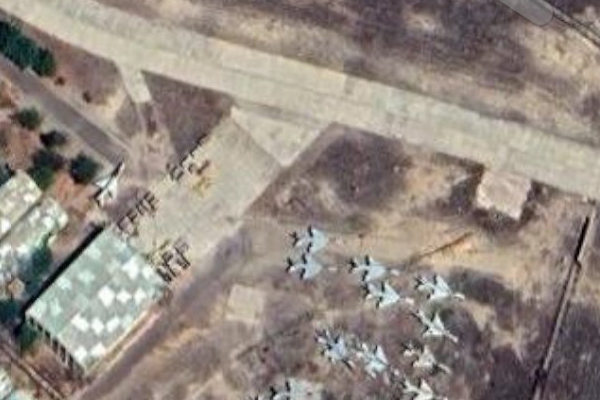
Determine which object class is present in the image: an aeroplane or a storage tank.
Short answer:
aeroplane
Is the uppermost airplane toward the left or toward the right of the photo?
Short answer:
left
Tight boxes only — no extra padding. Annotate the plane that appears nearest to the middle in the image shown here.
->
[296,229,343,254]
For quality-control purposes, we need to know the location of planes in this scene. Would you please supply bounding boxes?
[91,162,124,203]
[318,331,353,371]
[417,277,464,300]
[405,344,450,372]
[291,256,338,280]
[353,258,399,282]
[273,384,319,400]
[400,380,446,400]
[356,344,394,380]
[367,283,413,307]
[414,308,455,340]
[296,229,343,254]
